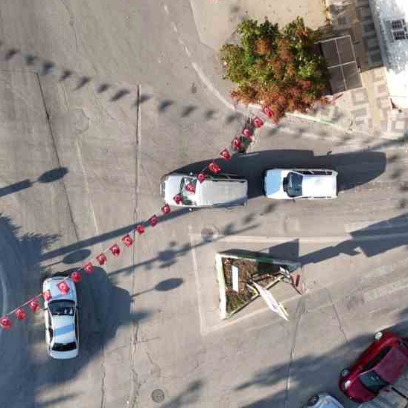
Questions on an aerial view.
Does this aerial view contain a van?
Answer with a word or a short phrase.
Yes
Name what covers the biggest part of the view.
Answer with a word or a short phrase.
paved ground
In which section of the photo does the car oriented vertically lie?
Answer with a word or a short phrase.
bottom left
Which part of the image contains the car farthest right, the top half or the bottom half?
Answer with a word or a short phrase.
bottom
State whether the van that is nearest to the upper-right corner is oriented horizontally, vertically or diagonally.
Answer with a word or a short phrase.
horizontally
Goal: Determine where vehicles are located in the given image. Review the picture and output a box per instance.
[41,271,81,358]
[335,328,408,400]
[301,393,338,408]
[259,165,338,203]
[158,171,249,210]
